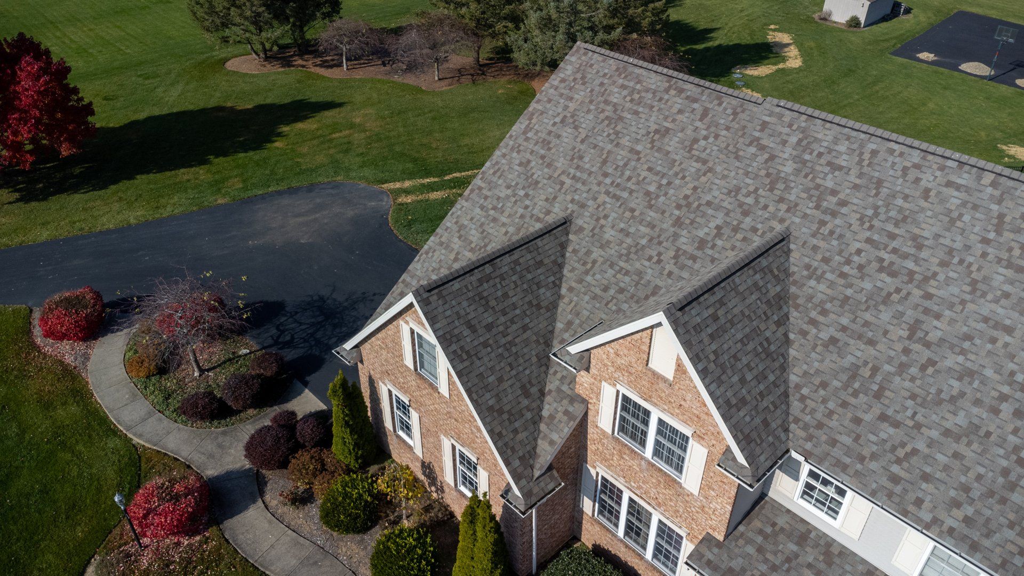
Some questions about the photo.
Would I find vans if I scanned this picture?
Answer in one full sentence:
No, I find no van anywhere in the image.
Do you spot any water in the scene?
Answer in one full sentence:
No, no water is visible.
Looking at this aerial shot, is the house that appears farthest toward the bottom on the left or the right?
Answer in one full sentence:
The house that appears farthest toward the bottom appears in the right half of the scene.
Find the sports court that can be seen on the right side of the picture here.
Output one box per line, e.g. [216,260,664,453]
[890,10,1024,90]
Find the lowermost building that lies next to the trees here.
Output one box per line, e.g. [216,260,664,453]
[331,40,1024,576]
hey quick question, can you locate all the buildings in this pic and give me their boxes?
[331,40,1024,576]
[822,0,901,27]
